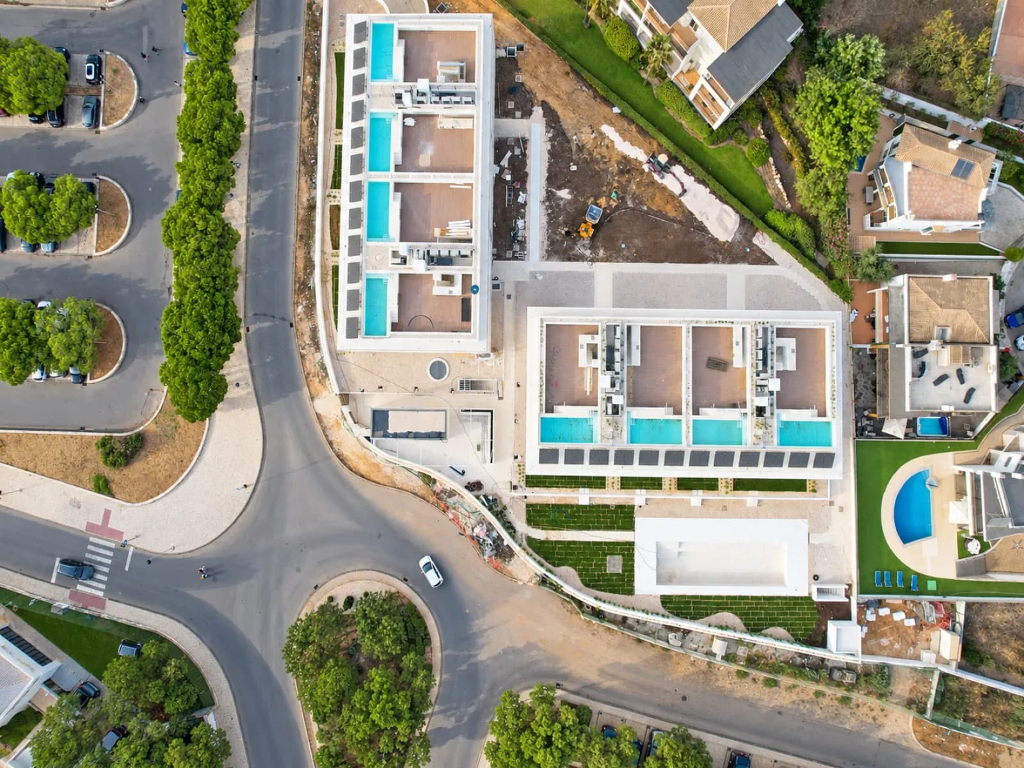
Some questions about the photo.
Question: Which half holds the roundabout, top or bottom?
bottom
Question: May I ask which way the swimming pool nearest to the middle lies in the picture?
from left to right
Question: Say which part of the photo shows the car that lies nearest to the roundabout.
bottom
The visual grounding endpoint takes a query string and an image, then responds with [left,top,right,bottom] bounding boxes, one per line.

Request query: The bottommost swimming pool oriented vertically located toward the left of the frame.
[366,274,388,336]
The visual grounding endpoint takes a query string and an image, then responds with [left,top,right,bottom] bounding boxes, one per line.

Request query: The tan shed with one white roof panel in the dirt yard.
[923,624,960,662]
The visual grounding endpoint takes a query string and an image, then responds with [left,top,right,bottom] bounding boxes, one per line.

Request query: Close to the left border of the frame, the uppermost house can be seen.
[0,598,82,720]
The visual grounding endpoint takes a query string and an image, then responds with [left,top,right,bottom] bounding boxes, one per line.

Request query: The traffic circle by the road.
[292,571,441,768]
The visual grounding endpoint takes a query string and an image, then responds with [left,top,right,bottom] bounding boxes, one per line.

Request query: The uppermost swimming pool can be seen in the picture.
[371,26,394,81]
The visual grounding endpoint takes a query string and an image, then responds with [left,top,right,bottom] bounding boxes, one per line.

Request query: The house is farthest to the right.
[949,424,1024,577]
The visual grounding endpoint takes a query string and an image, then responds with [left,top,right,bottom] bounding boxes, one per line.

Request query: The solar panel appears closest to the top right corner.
[951,159,975,179]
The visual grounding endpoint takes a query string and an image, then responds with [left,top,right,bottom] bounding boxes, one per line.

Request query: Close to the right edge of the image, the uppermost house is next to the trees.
[857,123,1003,236]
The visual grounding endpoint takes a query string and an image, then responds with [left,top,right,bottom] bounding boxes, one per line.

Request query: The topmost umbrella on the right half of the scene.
[877,419,908,443]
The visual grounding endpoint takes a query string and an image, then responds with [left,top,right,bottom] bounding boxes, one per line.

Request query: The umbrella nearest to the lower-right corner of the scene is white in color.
[946,502,966,521]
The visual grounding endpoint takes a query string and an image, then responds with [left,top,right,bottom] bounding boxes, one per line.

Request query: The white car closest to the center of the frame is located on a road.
[420,554,444,588]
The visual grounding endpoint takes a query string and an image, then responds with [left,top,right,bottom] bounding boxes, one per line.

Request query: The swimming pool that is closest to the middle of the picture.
[541,417,597,443]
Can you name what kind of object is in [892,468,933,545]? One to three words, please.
swimming pool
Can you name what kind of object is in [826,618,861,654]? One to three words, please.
shed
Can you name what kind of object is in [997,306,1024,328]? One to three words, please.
car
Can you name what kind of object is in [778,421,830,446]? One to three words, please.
swimming pool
